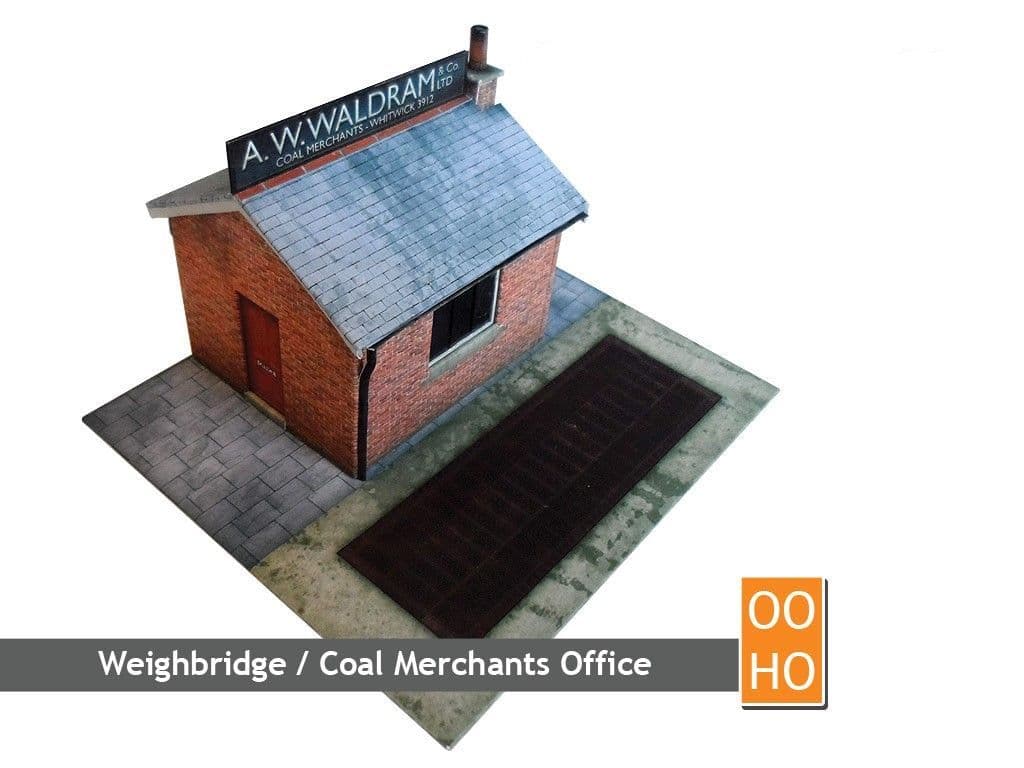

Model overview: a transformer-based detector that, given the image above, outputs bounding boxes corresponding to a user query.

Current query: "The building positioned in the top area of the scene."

[146,51,593,479]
